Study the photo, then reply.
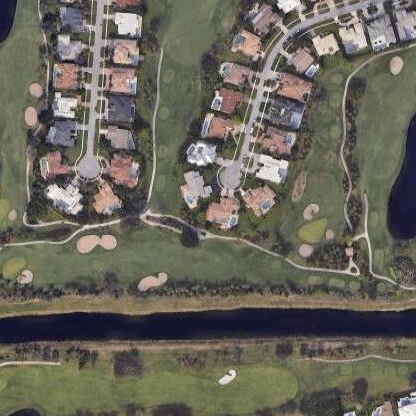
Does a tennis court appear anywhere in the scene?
No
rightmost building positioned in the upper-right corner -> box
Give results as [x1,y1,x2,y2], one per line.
[395,8,416,39]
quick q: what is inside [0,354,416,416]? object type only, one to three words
golf course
